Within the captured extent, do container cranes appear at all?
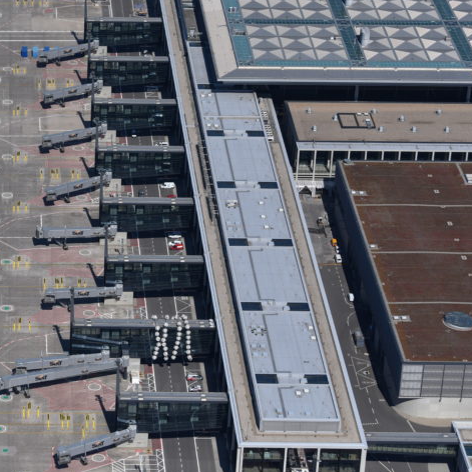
No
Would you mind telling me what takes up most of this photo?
buildings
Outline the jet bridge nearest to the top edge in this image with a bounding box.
[32,38,103,70]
